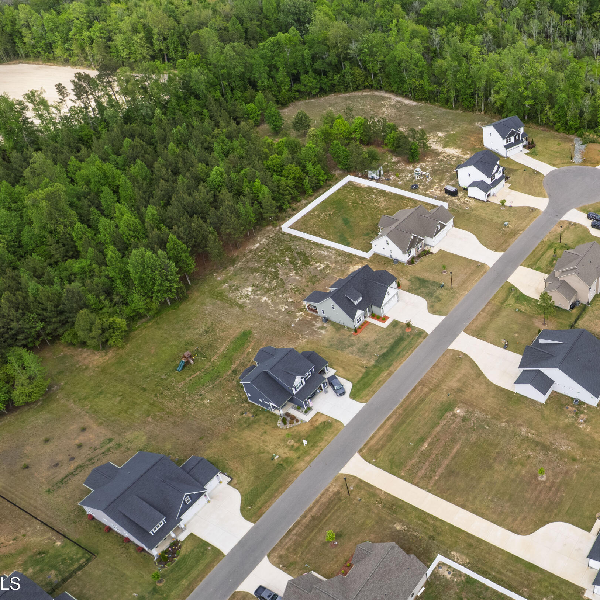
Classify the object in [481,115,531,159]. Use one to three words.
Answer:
house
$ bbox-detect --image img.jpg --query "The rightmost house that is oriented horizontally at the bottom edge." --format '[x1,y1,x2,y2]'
[282,539,431,600]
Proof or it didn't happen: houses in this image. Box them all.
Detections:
[481,115,531,159]
[450,150,511,202]
[239,346,329,416]
[514,328,600,408]
[282,539,431,600]
[0,571,78,600]
[371,204,455,264]
[78,451,224,557]
[304,265,400,329]
[544,241,600,310]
